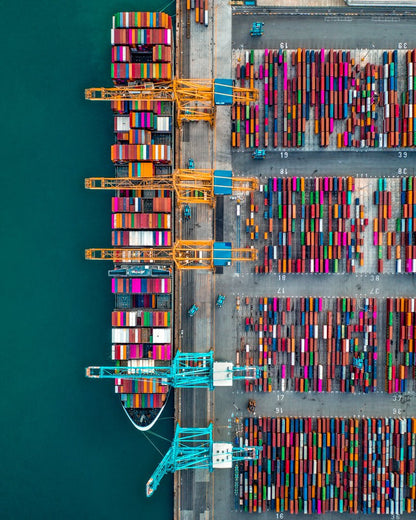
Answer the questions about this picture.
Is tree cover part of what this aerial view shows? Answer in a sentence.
No, no tree cover is visible.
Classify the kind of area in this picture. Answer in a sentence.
The picture captures a port.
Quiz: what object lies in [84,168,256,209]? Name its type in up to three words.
container crane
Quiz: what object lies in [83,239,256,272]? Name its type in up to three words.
container crane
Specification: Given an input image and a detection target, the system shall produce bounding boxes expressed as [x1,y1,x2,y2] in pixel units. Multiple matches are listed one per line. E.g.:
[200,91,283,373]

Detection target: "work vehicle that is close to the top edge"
[251,24,265,37]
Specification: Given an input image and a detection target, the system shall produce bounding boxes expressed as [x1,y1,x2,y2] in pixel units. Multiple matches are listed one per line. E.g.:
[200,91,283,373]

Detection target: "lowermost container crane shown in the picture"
[147,420,263,499]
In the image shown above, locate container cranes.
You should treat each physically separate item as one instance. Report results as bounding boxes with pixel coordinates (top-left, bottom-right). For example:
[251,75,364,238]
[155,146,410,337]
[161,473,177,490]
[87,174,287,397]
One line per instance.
[84,168,256,209]
[83,239,256,272]
[84,71,257,129]
[147,420,263,499]
[83,349,263,392]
